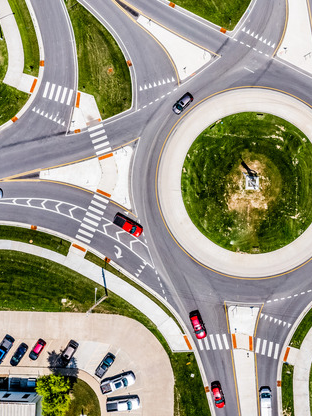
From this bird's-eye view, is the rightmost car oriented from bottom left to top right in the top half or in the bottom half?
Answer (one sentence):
The rightmost car oriented from bottom left to top right sits in the top half of the picture.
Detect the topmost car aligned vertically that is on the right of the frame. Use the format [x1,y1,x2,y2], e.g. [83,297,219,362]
[191,310,206,338]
